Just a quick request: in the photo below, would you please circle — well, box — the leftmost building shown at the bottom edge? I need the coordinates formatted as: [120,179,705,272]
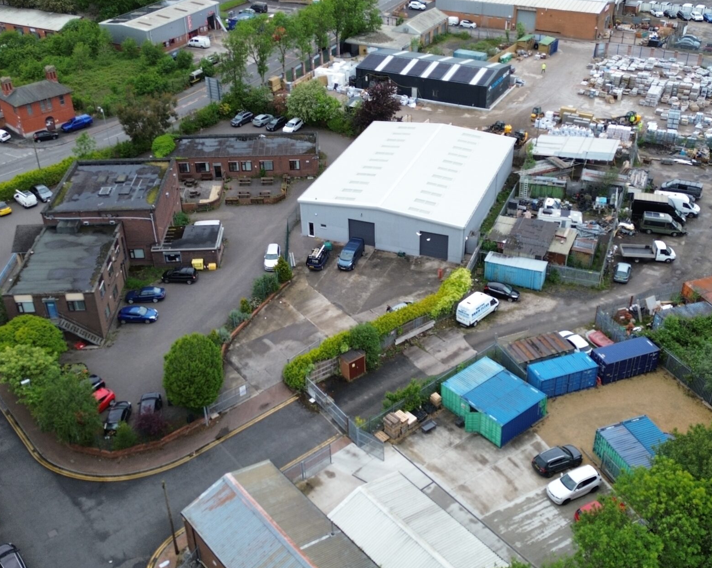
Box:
[174,456,396,568]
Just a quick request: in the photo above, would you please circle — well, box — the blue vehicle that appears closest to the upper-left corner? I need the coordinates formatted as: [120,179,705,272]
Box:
[60,112,93,132]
